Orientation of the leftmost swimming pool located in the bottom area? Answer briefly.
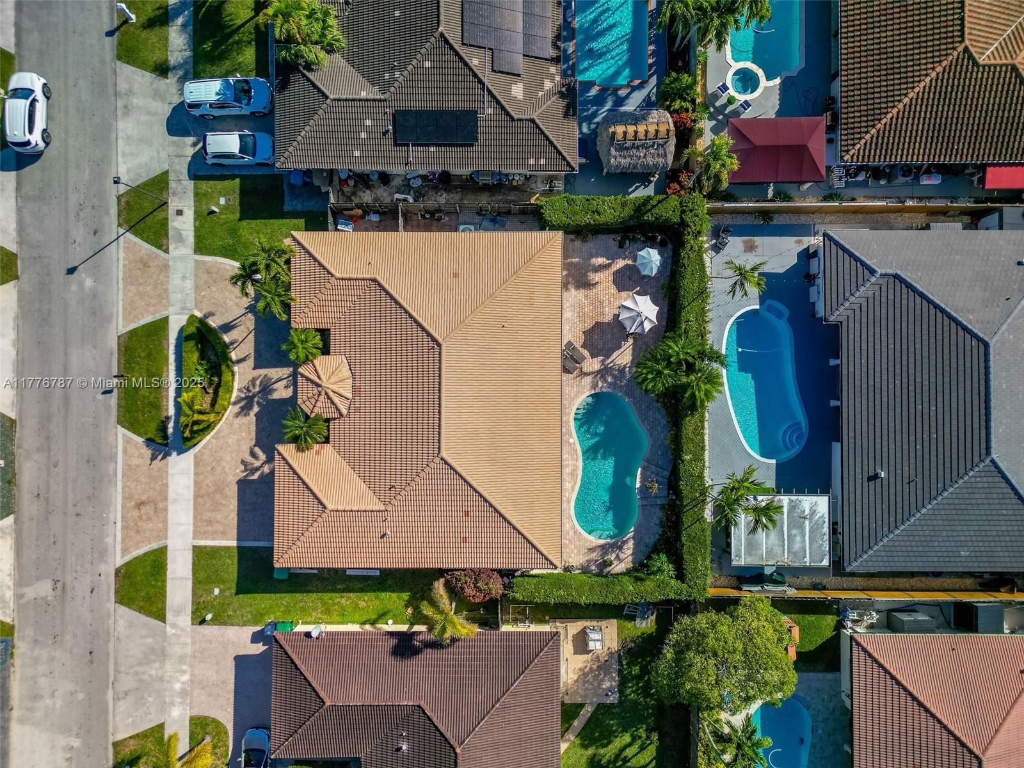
from top to bottom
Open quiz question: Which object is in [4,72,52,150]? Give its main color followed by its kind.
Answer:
white car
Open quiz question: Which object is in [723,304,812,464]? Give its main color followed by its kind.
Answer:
blue swimming pool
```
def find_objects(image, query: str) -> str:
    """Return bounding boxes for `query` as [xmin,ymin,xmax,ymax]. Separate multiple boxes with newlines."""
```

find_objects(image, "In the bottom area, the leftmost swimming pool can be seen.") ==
[571,390,650,542]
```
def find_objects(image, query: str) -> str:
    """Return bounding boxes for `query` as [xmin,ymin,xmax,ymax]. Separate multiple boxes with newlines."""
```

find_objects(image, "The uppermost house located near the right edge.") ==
[825,0,1024,171]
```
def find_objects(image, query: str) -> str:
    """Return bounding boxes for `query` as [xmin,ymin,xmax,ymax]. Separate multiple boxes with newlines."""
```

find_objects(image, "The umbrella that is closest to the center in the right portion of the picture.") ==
[615,292,659,346]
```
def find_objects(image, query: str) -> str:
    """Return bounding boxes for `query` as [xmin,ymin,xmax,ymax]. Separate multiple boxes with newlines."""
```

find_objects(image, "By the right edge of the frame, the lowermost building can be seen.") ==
[834,623,1024,768]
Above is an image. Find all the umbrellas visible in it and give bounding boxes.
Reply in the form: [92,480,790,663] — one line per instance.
[615,292,659,346]
[634,250,660,276]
